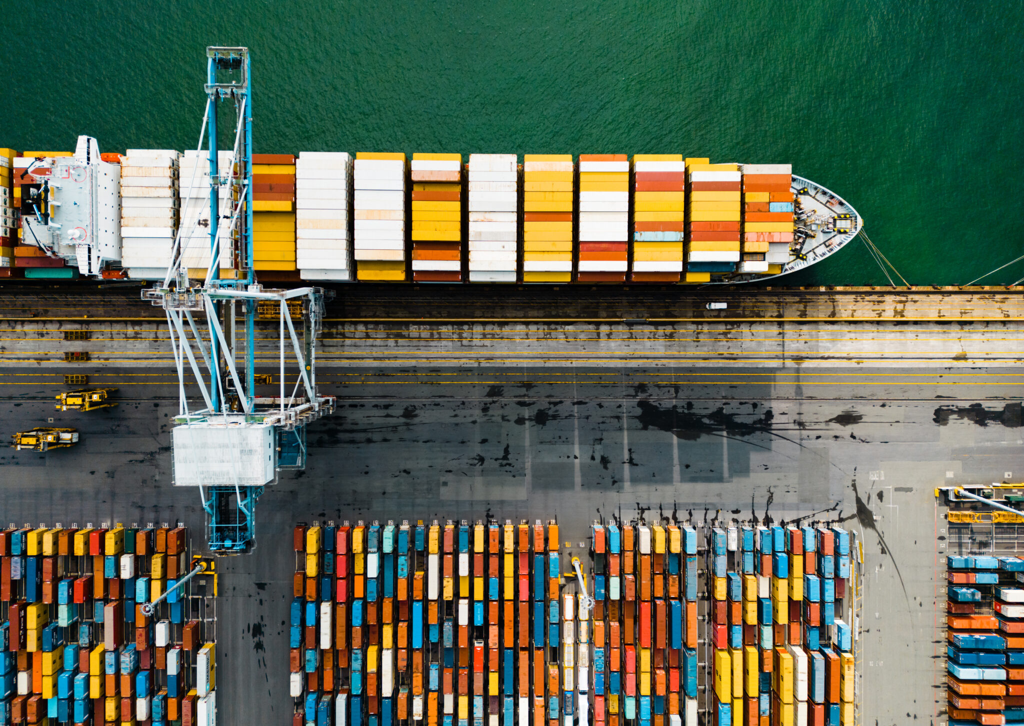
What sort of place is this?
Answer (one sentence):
The picture captures a port.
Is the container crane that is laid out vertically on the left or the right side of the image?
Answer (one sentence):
It is on the left.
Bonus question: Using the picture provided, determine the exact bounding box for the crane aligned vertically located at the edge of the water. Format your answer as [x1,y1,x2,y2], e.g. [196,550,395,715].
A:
[143,45,342,558]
